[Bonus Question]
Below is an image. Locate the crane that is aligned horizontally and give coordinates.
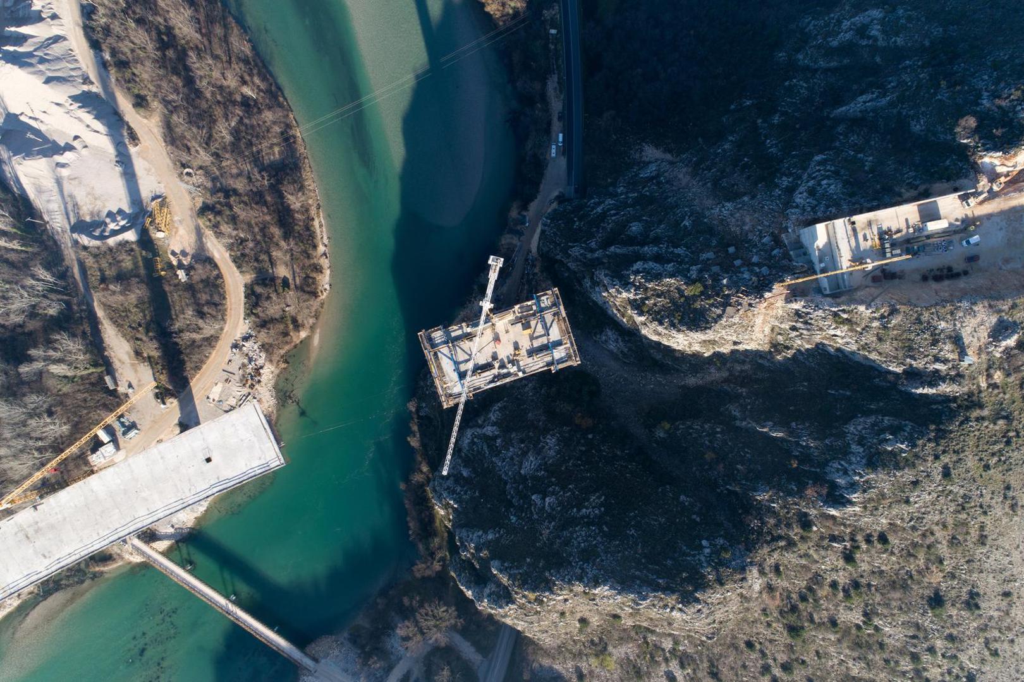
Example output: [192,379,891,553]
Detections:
[772,254,910,289]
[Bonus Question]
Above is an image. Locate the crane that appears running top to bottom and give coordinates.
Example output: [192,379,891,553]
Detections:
[443,258,504,476]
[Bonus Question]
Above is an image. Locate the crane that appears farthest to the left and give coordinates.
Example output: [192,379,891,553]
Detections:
[0,381,157,515]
